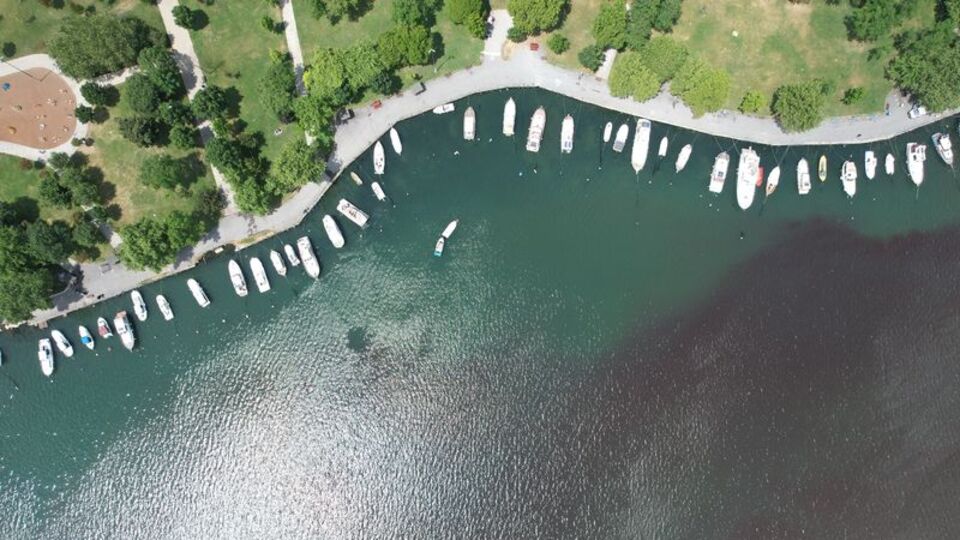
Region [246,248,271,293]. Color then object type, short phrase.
white boat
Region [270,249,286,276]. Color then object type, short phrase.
white boat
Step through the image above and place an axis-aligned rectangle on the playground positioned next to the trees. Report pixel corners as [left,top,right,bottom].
[0,53,89,165]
